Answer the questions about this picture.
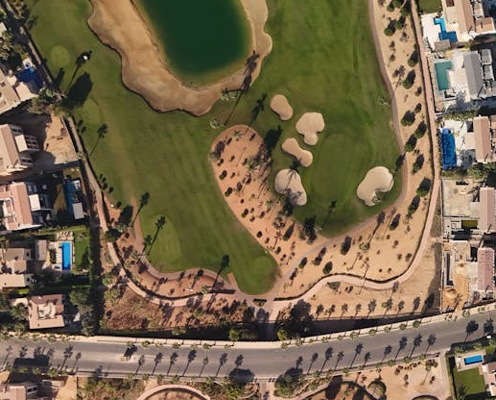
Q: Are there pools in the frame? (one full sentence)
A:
Yes, this view includes a pool.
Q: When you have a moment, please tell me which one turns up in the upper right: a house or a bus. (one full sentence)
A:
The one visible in the upper right is a house.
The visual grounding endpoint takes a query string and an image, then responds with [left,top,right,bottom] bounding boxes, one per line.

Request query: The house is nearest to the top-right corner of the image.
[442,0,496,41]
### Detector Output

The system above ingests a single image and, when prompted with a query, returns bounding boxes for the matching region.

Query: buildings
[0,239,50,286]
[72,202,89,219]
[442,0,496,41]
[0,181,56,228]
[454,240,496,293]
[443,48,496,98]
[470,186,496,234]
[464,114,496,162]
[0,61,40,119]
[0,380,65,400]
[29,293,77,329]
[0,123,42,174]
